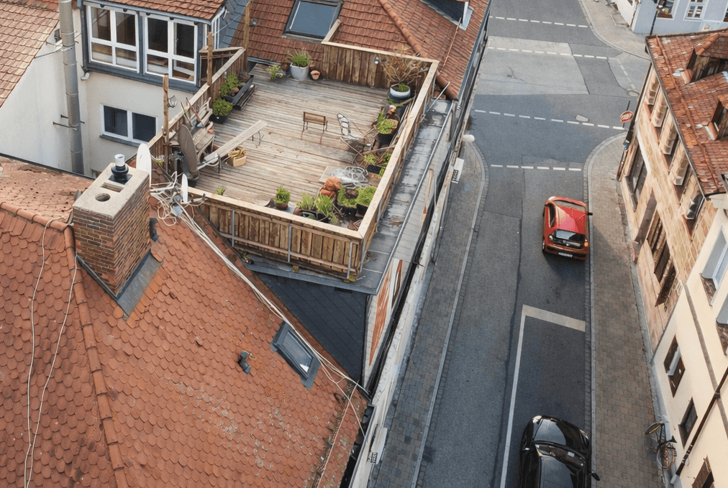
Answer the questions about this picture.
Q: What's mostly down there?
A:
buildings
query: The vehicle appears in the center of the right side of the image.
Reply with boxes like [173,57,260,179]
[538,191,592,254]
